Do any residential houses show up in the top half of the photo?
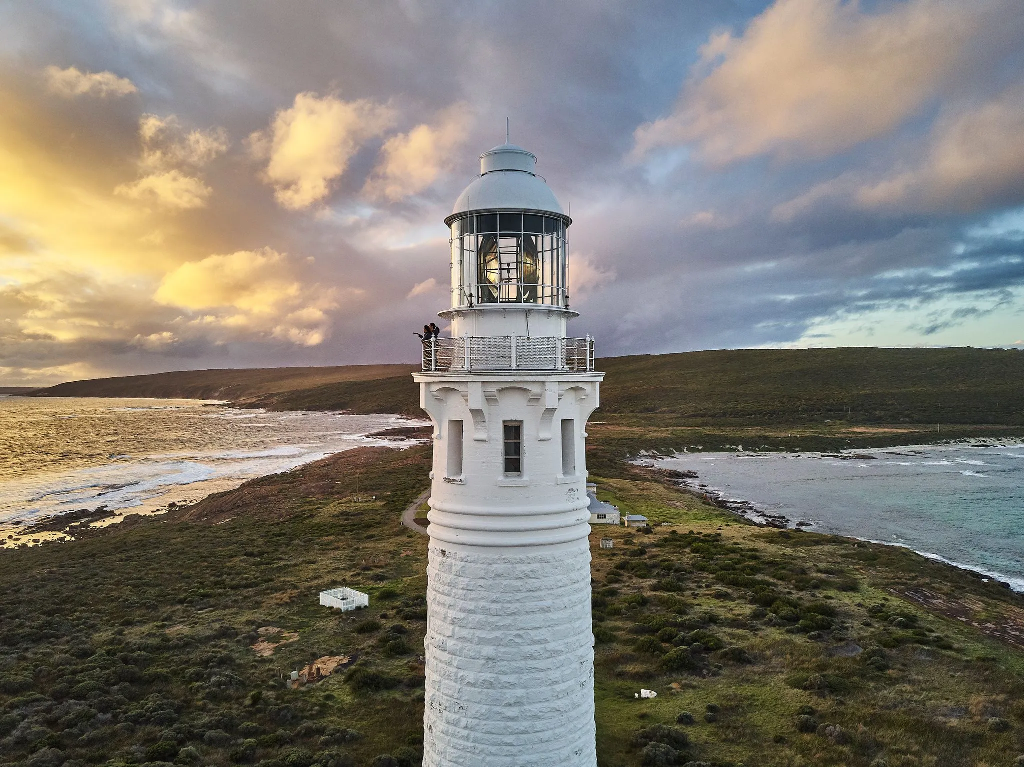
No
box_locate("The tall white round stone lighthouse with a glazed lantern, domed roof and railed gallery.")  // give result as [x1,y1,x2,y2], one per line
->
[411,116,607,767]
